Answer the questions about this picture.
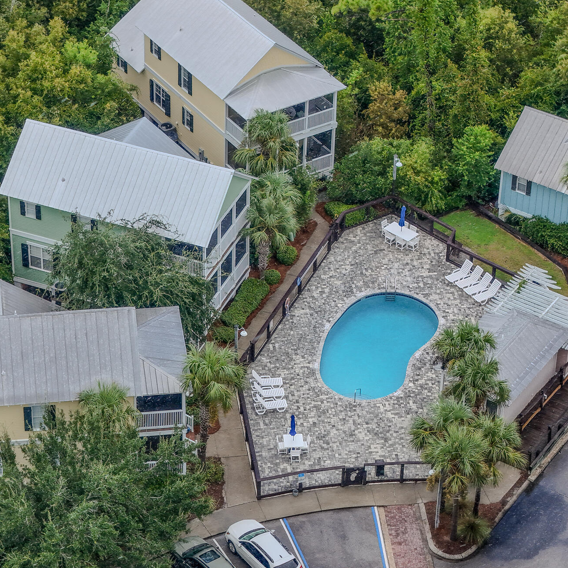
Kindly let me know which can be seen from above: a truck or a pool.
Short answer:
pool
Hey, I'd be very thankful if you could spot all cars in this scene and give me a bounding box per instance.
[168,535,237,568]
[222,517,307,568]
